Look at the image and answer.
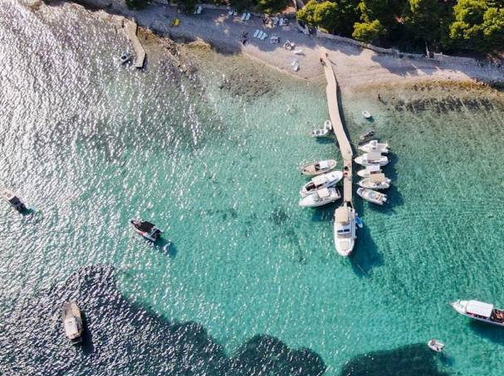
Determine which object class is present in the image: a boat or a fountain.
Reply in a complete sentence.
This aerial view contains a boat.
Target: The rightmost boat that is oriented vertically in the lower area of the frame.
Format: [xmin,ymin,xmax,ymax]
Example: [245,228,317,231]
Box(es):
[333,196,357,256]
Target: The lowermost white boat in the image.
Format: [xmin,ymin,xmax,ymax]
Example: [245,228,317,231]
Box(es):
[428,338,446,352]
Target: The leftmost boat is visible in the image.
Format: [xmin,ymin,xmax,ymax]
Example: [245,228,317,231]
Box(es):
[0,186,33,214]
